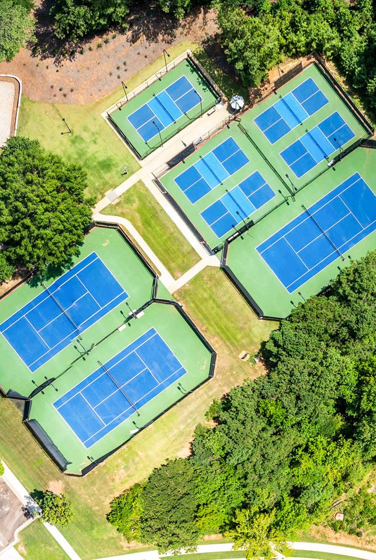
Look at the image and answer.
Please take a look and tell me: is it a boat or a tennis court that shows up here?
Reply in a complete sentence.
This aerial view contains a tennis court.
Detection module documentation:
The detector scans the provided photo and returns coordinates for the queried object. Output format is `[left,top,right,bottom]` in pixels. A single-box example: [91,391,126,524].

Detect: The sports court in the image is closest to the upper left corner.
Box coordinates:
[109,60,220,158]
